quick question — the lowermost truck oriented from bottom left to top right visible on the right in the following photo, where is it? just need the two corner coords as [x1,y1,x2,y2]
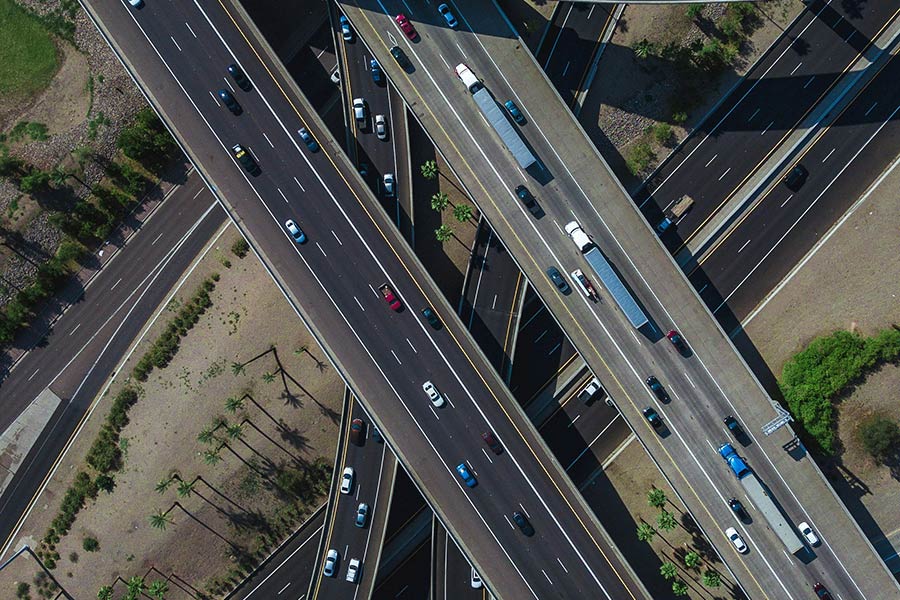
[577,379,601,404]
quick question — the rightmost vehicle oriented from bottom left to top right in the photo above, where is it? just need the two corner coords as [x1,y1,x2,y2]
[781,164,808,191]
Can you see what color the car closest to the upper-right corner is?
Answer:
black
